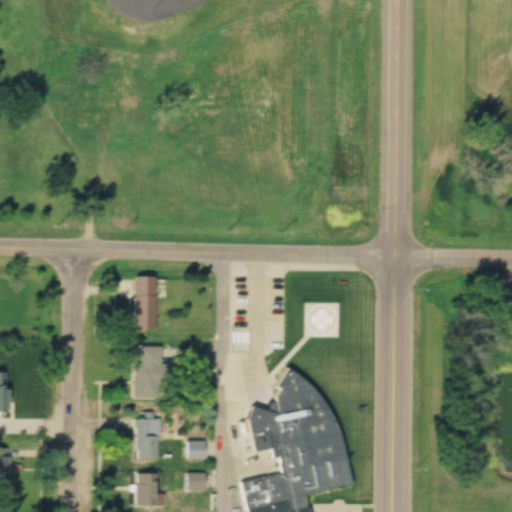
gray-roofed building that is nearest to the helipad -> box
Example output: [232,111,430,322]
[240,368,354,512]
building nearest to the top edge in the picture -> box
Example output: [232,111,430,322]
[136,277,158,330]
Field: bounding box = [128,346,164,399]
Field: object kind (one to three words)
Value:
house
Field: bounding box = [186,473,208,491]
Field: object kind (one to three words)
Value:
building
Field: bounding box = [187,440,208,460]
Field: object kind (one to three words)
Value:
building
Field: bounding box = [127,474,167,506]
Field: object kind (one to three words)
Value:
house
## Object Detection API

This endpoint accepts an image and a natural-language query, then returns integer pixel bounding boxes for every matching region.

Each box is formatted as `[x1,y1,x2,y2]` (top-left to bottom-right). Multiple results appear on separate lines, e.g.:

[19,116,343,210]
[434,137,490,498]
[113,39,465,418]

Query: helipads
[304,302,339,338]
